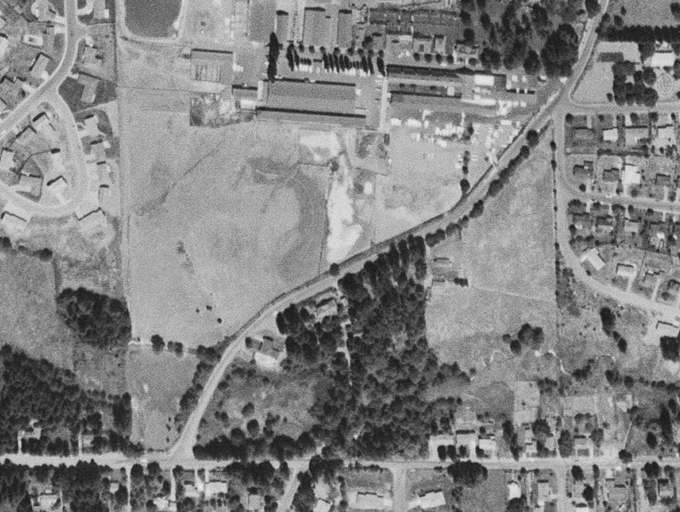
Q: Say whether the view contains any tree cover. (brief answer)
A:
Yes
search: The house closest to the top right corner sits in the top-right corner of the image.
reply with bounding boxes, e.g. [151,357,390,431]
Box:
[653,50,676,66]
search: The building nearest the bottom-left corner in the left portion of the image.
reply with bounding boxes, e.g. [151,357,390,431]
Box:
[39,494,61,511]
